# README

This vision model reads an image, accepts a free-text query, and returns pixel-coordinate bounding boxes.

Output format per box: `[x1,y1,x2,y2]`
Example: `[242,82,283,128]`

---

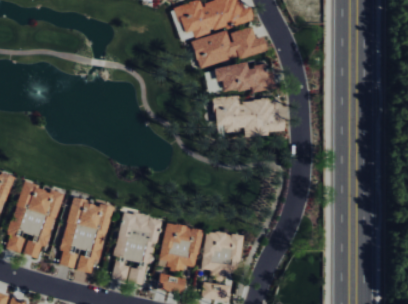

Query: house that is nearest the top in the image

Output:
[174,0,254,38]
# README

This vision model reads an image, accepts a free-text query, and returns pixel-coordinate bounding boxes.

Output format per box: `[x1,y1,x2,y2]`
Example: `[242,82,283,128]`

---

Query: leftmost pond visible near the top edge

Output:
[0,0,114,67]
